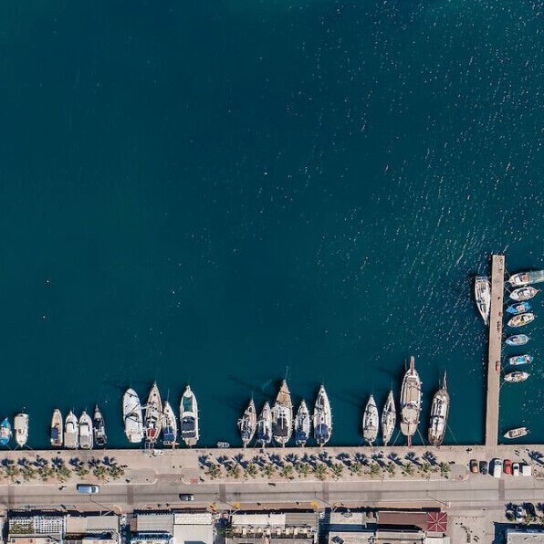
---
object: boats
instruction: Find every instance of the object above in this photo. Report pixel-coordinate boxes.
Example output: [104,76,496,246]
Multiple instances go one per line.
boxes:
[503,428,529,438]
[268,379,294,447]
[49,406,65,448]
[180,385,200,447]
[0,416,13,446]
[381,391,397,446]
[510,286,537,301]
[506,302,531,312]
[123,384,144,445]
[311,385,332,446]
[504,269,544,286]
[509,355,533,365]
[136,381,163,447]
[155,401,177,448]
[238,398,258,447]
[78,411,95,448]
[506,314,535,327]
[216,441,230,447]
[64,409,79,448]
[294,400,310,447]
[15,413,30,447]
[474,276,490,325]
[505,334,530,346]
[504,371,529,382]
[255,401,273,447]
[362,395,379,446]
[92,403,108,447]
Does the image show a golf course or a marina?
marina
